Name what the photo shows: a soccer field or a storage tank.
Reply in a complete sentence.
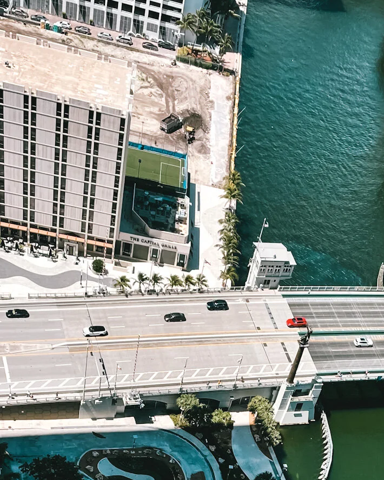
Visible in the photo is a soccer field.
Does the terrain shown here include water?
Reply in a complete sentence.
Yes, the picture does contain water.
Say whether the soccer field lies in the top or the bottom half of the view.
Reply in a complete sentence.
The soccer field sits in the top half of the picture.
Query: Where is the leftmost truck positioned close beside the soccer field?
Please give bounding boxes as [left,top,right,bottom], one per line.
[158,107,186,130]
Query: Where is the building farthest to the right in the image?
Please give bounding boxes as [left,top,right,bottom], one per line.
[248,210,296,290]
